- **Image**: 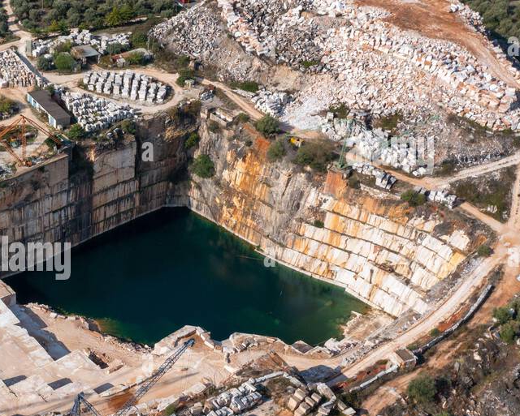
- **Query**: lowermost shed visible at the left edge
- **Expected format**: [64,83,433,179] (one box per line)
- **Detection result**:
[23,93,76,128]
